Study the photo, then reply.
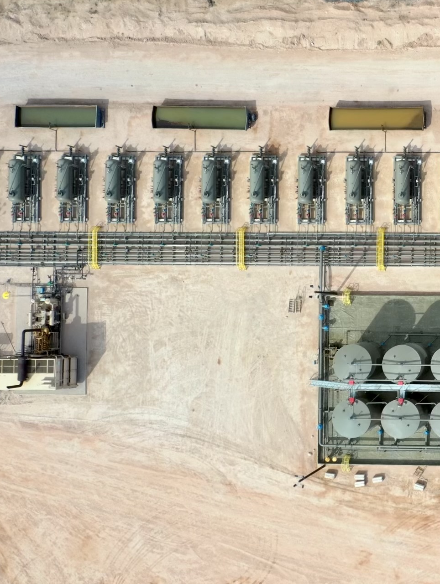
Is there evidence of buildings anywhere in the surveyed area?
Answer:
No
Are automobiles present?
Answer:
No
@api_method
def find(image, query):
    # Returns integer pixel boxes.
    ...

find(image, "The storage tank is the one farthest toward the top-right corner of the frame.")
[328,106,427,134]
